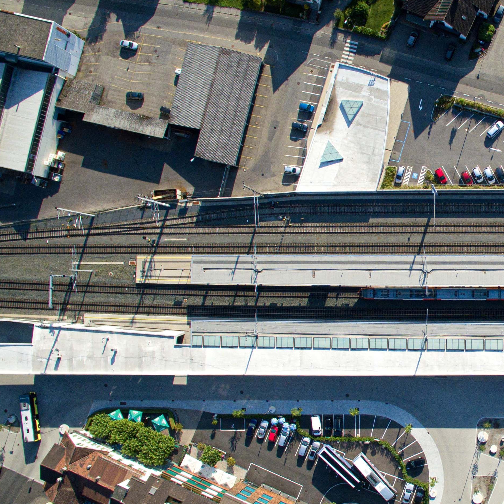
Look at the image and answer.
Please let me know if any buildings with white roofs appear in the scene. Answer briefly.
Yes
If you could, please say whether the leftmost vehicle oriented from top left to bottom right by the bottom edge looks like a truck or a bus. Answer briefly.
bus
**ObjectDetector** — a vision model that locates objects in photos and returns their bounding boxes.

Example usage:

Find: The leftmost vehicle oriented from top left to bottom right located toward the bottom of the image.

[316,444,365,492]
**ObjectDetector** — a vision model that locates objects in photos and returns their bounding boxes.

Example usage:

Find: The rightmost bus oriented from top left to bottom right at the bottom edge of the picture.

[352,451,397,502]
